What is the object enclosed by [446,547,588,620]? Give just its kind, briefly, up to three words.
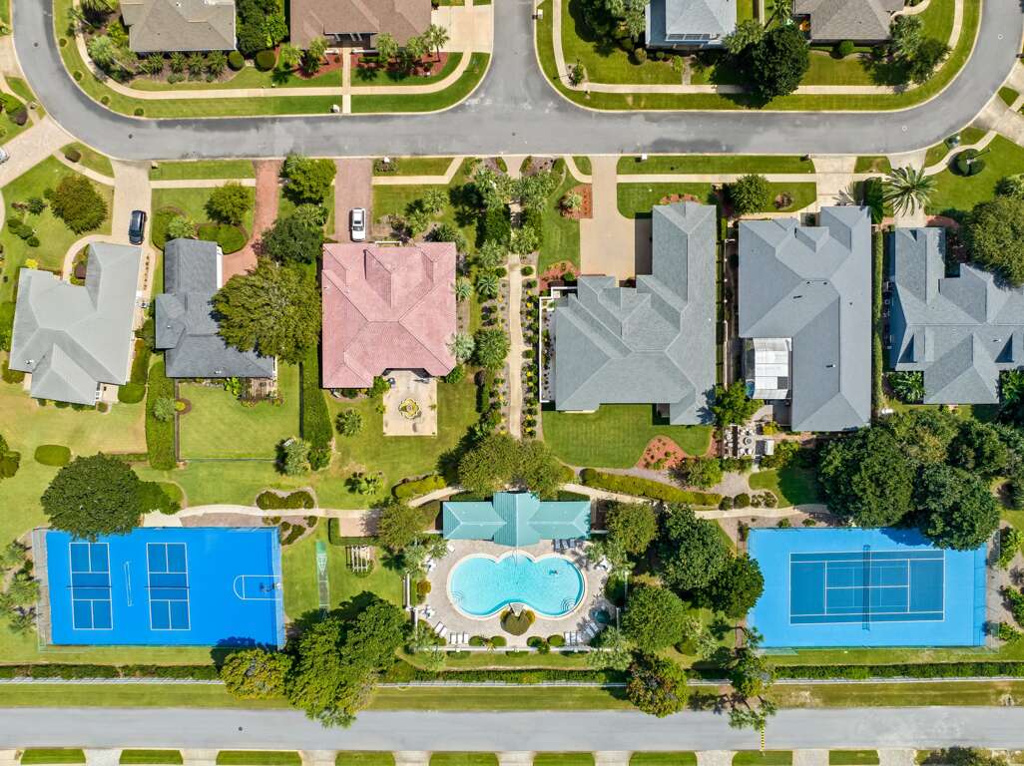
swimming pool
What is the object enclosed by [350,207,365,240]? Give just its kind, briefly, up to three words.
car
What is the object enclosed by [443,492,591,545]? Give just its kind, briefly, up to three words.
building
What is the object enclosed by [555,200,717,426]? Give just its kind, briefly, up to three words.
house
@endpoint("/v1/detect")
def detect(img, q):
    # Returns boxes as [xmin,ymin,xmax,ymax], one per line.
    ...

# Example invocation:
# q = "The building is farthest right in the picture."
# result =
[887,227,1024,419]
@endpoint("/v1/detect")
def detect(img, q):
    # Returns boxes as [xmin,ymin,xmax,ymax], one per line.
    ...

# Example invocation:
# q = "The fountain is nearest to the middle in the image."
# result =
[400,398,420,418]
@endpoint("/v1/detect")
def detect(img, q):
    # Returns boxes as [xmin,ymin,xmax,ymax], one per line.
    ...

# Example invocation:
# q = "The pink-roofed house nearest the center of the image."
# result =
[322,240,456,388]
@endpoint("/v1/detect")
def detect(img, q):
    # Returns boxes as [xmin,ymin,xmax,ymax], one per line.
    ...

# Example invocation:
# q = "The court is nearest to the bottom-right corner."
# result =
[748,528,988,648]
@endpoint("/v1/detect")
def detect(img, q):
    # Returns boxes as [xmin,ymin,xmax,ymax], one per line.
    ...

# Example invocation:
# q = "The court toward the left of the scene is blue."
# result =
[46,527,285,648]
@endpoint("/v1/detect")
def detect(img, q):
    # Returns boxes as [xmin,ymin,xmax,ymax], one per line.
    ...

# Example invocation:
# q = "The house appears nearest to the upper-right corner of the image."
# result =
[792,0,904,45]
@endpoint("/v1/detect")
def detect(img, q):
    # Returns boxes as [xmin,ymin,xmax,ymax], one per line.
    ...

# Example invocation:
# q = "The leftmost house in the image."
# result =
[9,242,148,406]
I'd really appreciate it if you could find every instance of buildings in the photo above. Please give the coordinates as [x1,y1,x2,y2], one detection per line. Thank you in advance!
[887,227,1024,419]
[322,240,456,388]
[792,0,904,45]
[443,492,591,545]
[555,200,717,426]
[290,0,431,55]
[736,206,872,432]
[9,242,148,406]
[120,0,240,56]
[647,0,736,51]
[155,236,279,380]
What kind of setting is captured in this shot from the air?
residential area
